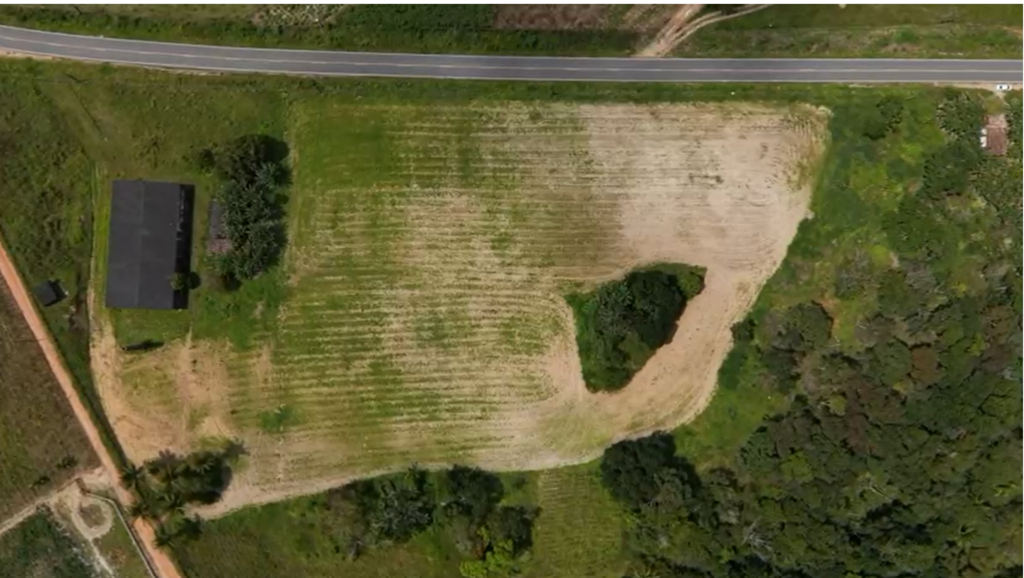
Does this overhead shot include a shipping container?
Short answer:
No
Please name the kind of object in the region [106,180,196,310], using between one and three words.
shed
